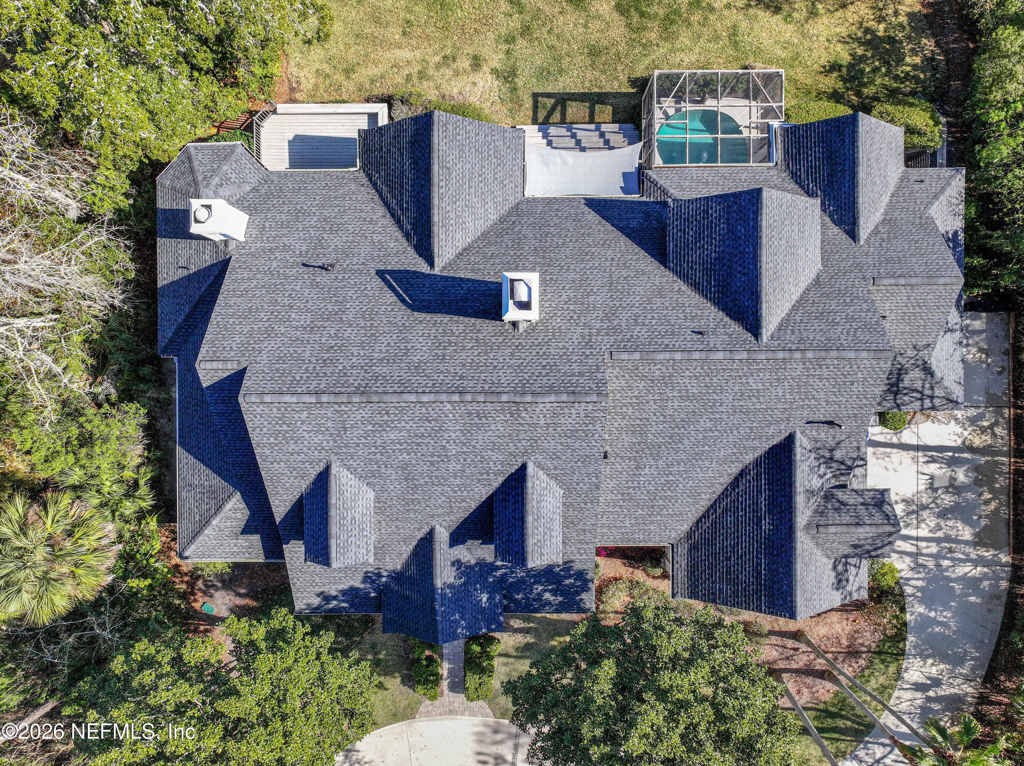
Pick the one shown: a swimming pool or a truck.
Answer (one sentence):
Looking from above, you can make out a swimming pool.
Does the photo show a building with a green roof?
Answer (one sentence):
No, the scene contains no building with a green roof.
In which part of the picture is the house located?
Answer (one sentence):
The house is located in the center region of the scene.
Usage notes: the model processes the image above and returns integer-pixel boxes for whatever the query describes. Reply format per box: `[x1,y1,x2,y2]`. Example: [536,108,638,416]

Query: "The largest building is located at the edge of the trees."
[154,111,967,645]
